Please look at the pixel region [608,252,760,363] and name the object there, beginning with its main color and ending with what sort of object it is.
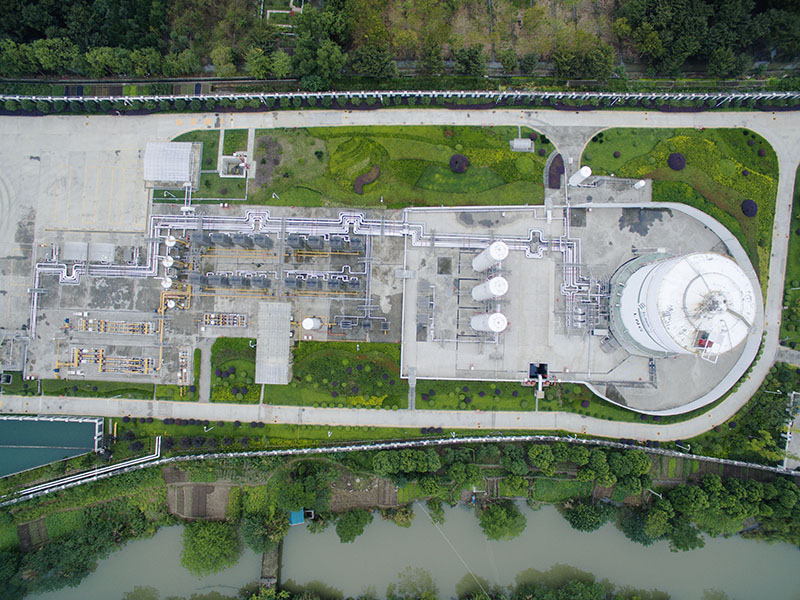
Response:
white storage tank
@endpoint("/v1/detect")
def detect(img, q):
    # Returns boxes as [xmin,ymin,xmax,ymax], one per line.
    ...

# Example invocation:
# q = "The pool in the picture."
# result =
[0,420,98,480]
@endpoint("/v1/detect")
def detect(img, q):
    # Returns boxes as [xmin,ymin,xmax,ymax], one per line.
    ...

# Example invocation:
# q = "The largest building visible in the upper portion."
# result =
[510,138,534,153]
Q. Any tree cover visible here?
Yes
